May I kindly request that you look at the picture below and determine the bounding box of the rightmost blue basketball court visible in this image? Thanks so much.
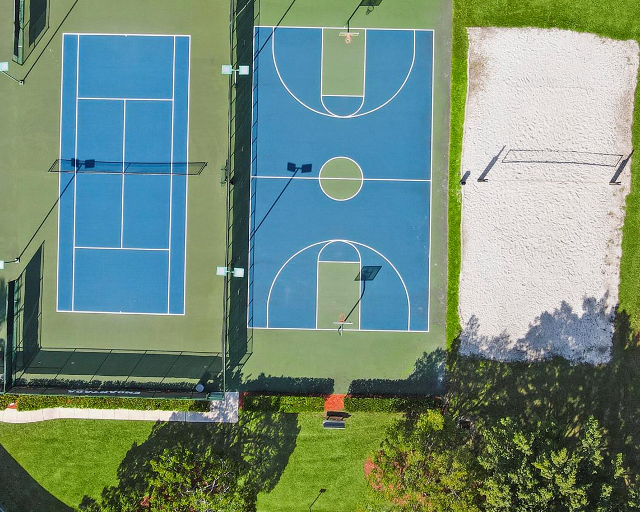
[225,0,453,395]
